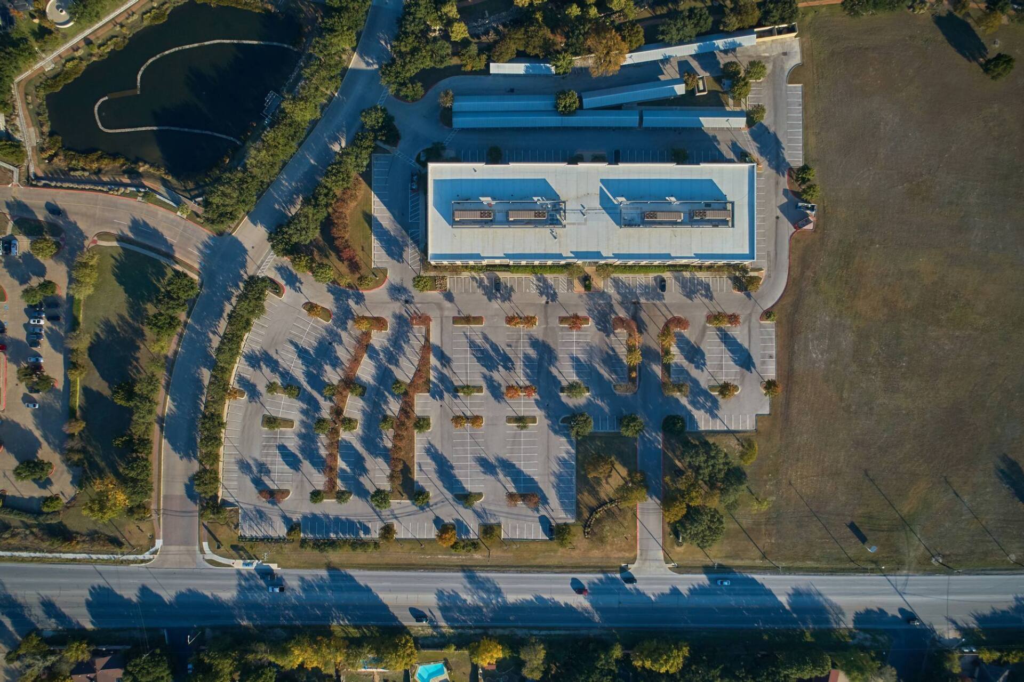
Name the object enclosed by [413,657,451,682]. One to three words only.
swimming pool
